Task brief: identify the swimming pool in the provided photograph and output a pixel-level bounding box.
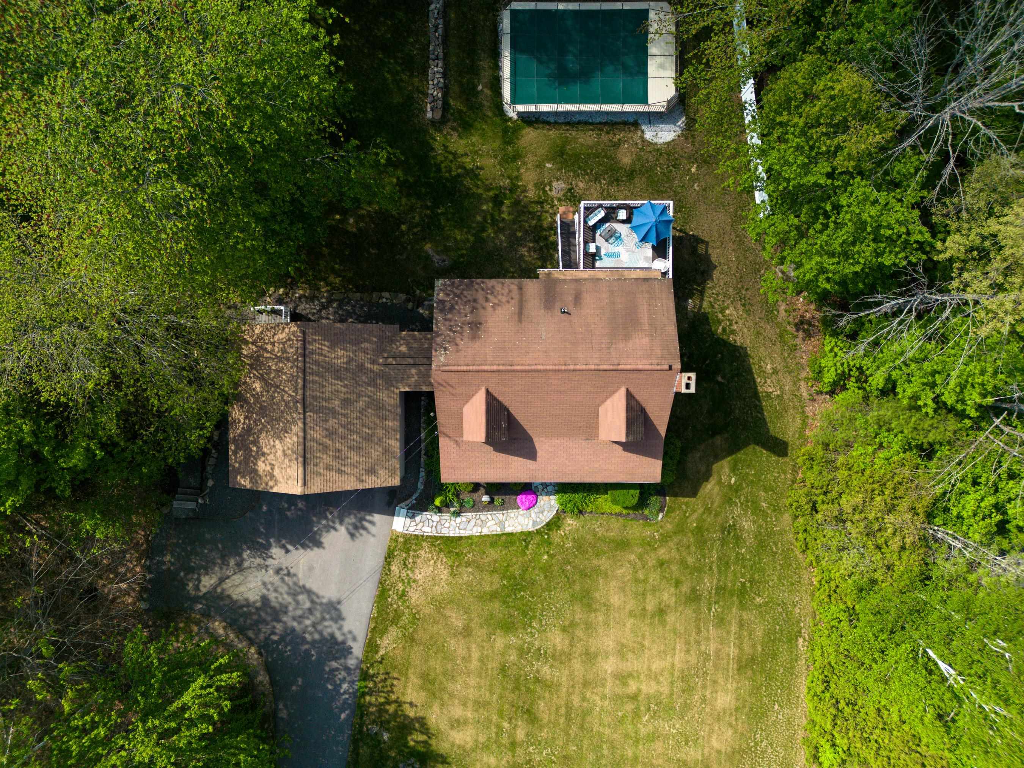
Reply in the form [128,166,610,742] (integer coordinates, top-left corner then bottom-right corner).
[503,0,680,116]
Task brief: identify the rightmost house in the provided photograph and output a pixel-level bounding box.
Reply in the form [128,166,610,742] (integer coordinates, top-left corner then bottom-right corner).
[432,269,695,483]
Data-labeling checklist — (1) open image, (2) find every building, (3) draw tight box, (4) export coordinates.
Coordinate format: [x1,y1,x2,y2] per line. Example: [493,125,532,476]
[229,321,405,494]
[432,269,695,483]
